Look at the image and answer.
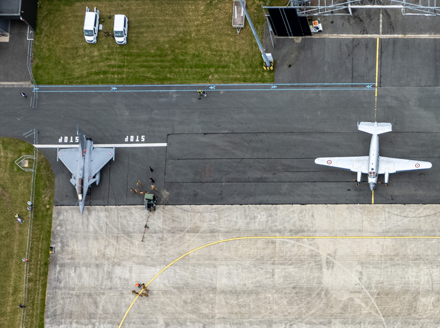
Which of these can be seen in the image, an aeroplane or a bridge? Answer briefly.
aeroplane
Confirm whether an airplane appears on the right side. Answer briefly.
Yes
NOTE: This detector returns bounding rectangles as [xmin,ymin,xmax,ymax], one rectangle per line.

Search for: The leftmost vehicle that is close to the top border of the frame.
[82,9,97,43]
